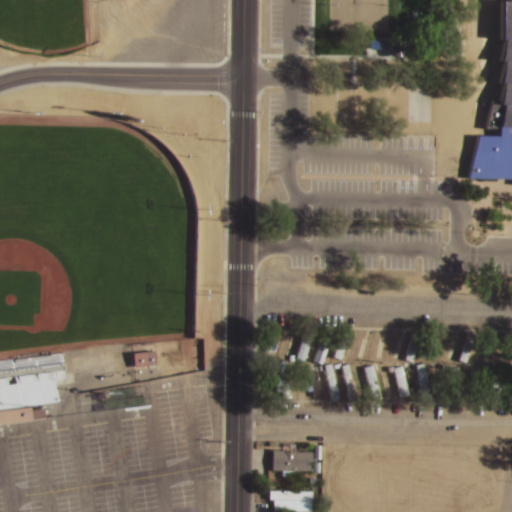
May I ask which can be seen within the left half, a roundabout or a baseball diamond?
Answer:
baseball diamond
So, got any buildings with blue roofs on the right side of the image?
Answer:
Yes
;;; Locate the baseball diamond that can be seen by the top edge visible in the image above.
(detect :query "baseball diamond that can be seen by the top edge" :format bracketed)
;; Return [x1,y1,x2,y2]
[0,0,88,56]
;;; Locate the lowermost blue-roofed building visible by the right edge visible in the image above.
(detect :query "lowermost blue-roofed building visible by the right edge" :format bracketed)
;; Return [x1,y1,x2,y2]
[470,126,512,180]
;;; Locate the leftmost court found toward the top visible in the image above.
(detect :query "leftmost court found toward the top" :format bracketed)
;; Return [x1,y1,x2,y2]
[331,0,388,33]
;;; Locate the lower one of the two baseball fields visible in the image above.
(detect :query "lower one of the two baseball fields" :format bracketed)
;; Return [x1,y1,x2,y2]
[0,116,197,360]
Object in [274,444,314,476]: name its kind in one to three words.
house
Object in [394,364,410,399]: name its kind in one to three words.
house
